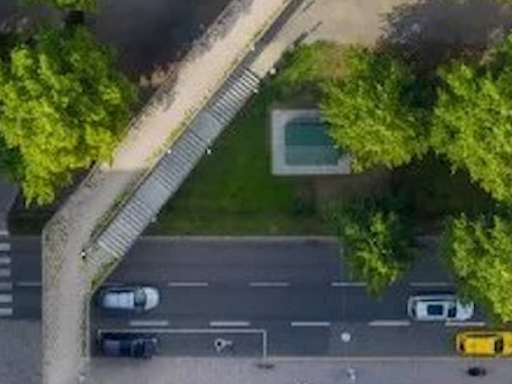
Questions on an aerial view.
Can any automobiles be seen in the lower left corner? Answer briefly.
Yes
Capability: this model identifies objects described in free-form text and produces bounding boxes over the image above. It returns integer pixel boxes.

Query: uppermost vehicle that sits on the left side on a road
[102,282,159,311]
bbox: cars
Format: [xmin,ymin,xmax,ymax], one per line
[102,282,159,311]
[455,328,512,357]
[99,330,157,360]
[409,293,472,323]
